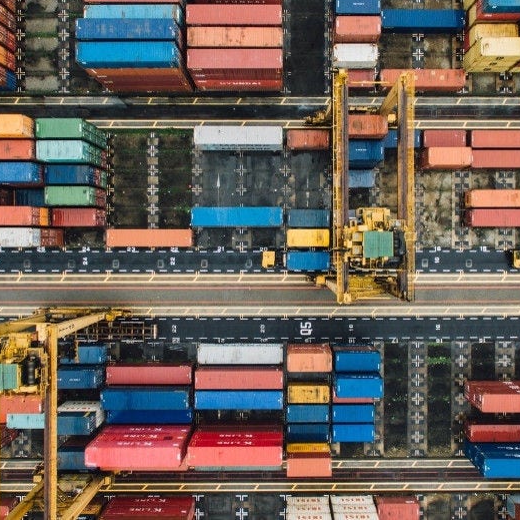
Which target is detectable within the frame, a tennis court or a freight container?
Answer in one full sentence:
The one in the frame is a freight container.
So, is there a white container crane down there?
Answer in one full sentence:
No, there appears to be no white container crane in this shot.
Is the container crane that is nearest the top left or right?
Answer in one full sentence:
The container crane that is nearest the top sits on the right side.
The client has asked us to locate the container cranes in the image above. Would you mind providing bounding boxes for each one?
[299,70,415,304]
[0,308,135,520]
